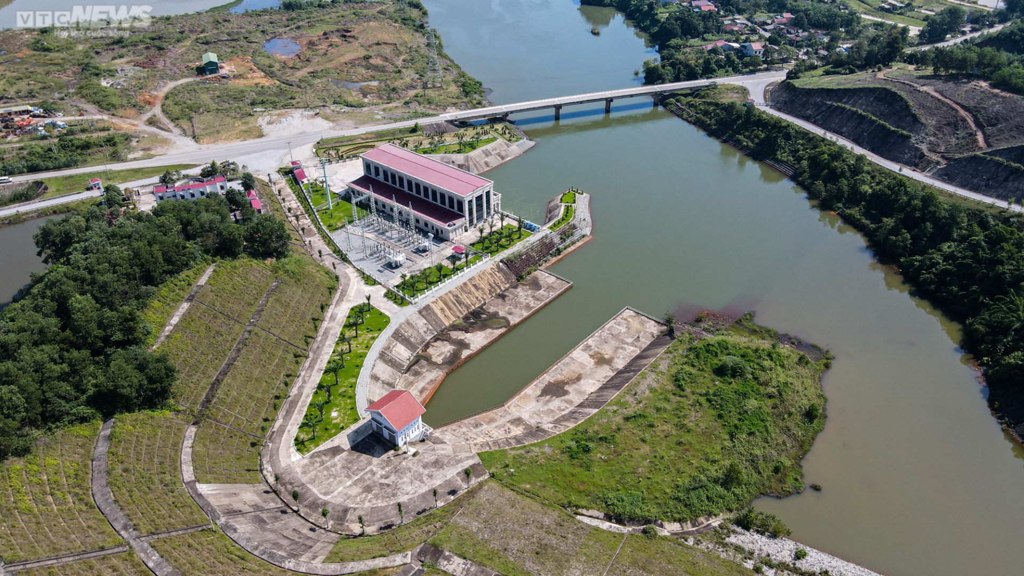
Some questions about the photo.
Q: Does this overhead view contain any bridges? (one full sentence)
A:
Yes, looking at the shot, I can spot a bridge.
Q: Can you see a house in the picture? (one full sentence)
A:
Yes, a house is visible in the scene.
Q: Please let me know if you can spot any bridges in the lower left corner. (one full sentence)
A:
No, no bridge appears in the lower left corner.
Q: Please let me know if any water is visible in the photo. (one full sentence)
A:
Yes, some water is visible.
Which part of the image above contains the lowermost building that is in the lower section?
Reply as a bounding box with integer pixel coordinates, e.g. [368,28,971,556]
[364,390,436,447]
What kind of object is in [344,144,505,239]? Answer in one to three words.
building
